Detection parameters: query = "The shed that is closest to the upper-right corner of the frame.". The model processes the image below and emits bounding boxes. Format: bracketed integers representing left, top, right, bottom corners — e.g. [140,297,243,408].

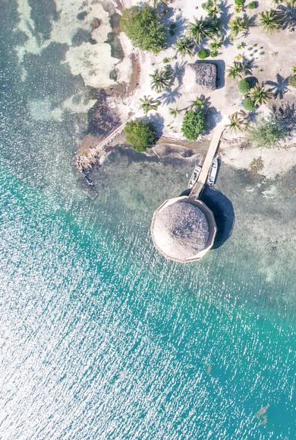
[183,62,218,94]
